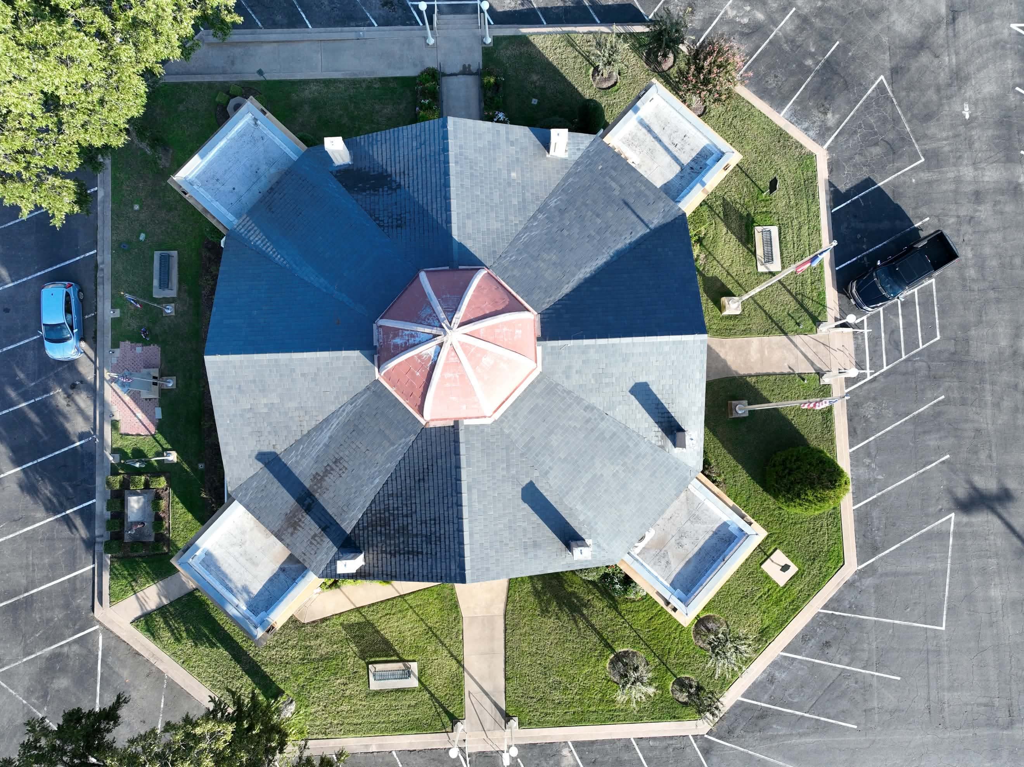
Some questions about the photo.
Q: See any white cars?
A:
No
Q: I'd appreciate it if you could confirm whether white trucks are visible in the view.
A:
No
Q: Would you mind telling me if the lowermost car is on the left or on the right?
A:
left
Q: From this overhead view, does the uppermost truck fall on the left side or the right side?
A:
right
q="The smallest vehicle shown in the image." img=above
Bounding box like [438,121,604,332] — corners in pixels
[41,284,89,360]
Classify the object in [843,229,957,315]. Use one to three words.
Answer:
truck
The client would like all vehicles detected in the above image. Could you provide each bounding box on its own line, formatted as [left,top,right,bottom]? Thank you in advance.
[41,284,89,360]
[843,229,957,315]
